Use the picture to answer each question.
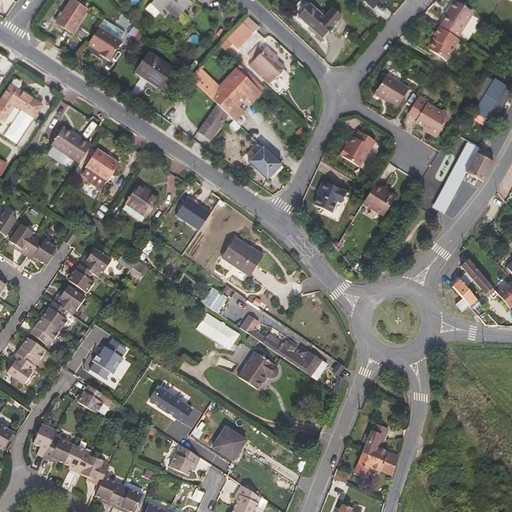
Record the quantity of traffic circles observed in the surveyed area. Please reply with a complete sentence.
I count just 1 traffic circle.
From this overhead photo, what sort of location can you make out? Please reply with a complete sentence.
What you see here is a residential area.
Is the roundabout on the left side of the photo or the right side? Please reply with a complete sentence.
You can find the roundabout on the right side of the picture.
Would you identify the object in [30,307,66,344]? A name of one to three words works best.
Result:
house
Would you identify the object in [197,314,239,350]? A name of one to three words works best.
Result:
barn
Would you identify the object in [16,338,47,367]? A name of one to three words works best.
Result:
house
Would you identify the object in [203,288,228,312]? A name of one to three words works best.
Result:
greenhouse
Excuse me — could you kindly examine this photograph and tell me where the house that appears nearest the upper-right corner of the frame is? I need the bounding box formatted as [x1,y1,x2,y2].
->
[440,2,474,38]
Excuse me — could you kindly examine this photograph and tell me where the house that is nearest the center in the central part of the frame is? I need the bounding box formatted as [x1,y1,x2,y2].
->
[222,236,263,276]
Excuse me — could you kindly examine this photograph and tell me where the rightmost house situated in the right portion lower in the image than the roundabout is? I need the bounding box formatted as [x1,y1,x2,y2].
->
[354,424,398,482]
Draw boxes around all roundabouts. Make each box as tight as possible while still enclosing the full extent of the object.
[354,278,440,364]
